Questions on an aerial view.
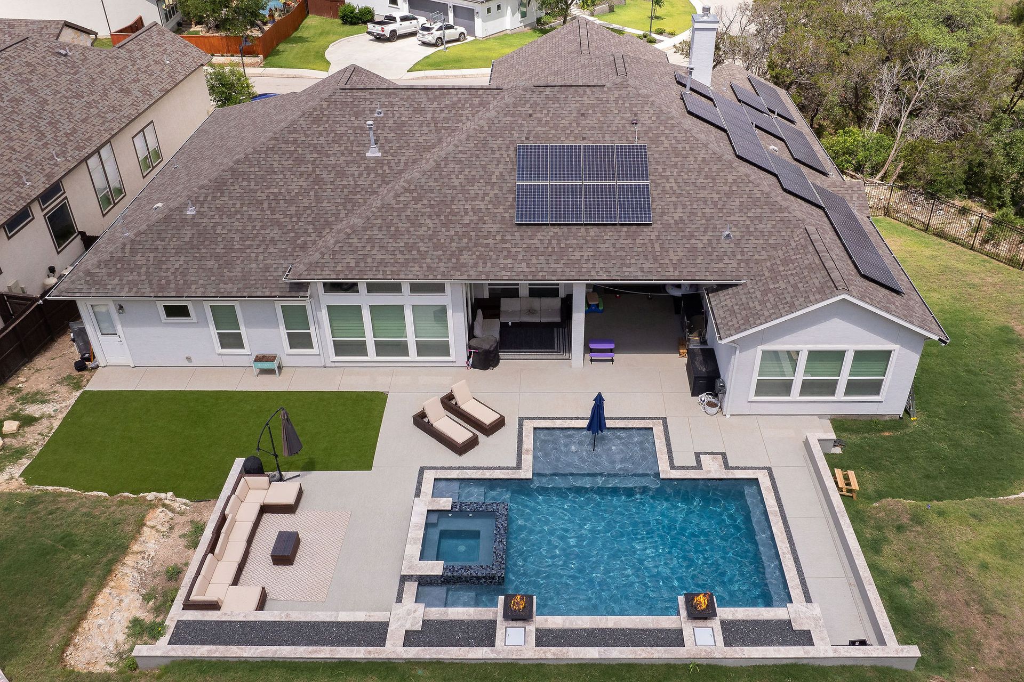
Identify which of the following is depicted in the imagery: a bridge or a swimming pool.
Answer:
swimming pool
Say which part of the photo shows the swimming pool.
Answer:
bottom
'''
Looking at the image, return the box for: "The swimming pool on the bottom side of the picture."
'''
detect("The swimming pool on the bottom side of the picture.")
[401,420,806,629]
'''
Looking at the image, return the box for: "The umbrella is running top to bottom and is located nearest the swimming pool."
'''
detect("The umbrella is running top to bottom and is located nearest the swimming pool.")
[586,390,607,452]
